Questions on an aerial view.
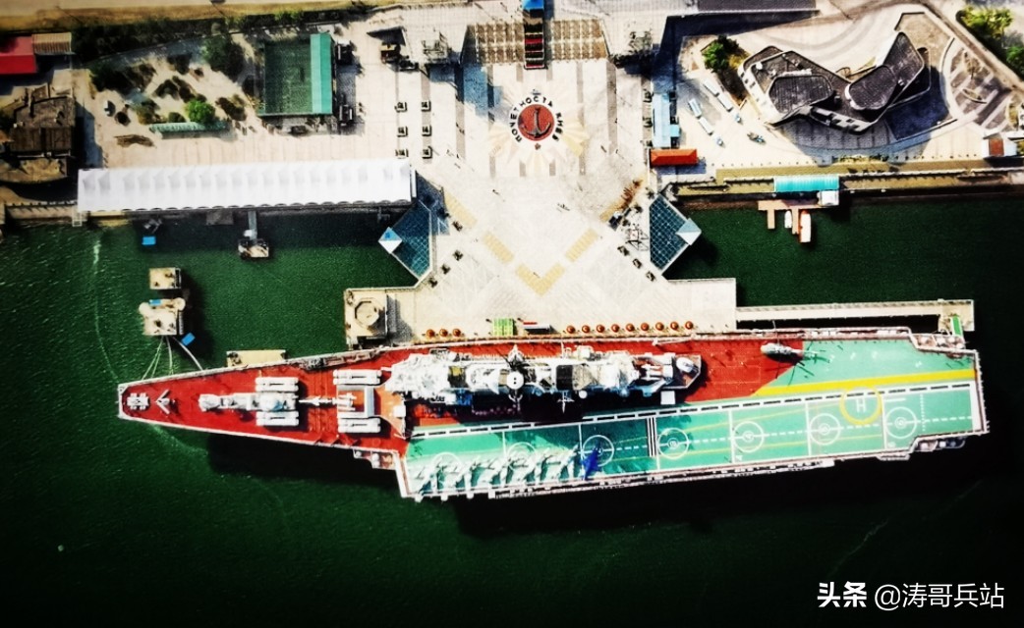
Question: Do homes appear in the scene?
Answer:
Yes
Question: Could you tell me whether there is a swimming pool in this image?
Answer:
No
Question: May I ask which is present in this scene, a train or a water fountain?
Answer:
train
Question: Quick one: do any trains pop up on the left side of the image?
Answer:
No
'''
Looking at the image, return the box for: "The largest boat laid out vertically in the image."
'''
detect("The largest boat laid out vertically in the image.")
[800,210,813,244]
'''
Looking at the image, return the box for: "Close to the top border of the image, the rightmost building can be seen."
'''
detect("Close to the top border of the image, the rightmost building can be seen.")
[735,30,932,135]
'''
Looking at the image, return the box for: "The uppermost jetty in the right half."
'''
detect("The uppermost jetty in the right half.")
[757,200,815,234]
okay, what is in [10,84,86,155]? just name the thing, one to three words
house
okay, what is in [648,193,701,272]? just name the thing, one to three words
building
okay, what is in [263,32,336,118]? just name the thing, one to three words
building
